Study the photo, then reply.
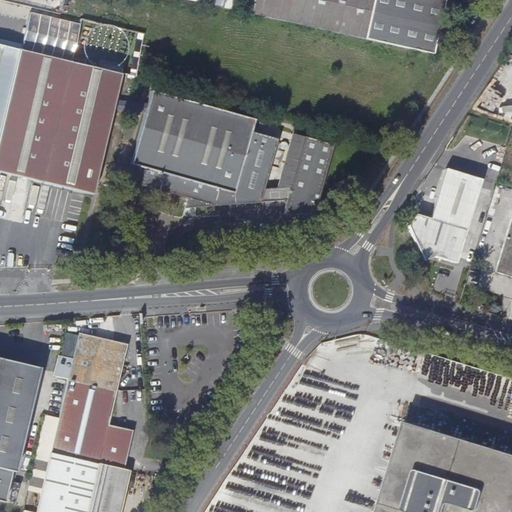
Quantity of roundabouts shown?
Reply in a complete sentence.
The picture shows just 1 roundabout.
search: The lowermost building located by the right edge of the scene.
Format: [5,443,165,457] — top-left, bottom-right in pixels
[374,422,512,512]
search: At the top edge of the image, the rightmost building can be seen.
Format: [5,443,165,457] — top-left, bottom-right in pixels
[368,0,446,53]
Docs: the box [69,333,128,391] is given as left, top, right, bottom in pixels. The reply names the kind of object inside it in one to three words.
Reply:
building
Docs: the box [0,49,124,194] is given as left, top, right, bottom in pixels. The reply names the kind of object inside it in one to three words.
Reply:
warehouse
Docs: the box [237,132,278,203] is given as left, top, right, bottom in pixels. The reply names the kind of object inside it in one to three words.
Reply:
building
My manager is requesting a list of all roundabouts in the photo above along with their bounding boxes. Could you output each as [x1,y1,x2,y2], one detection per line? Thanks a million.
[290,249,372,332]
